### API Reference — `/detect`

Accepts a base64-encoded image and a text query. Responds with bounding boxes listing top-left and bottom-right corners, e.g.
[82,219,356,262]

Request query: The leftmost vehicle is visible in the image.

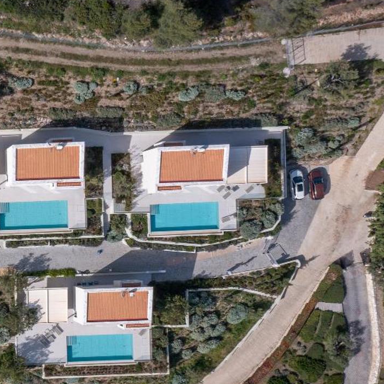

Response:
[289,168,308,199]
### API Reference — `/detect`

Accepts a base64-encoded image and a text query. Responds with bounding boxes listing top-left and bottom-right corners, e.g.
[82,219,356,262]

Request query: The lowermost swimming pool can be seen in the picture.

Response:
[67,334,131,362]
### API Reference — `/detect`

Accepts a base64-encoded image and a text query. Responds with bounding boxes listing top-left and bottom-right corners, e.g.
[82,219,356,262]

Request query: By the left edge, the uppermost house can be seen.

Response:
[6,139,85,191]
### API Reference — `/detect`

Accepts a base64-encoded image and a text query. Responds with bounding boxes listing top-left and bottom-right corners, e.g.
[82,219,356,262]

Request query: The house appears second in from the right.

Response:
[74,280,153,329]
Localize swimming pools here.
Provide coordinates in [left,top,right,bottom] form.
[150,202,218,233]
[67,334,131,362]
[0,201,67,232]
